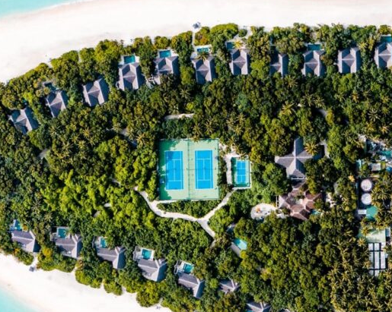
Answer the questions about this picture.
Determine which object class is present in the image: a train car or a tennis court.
tennis court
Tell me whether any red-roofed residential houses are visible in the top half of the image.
No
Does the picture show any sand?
Yes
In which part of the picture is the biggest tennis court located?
center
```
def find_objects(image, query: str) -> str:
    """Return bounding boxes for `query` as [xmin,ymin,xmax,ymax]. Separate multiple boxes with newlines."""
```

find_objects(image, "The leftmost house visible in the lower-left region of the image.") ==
[10,217,38,251]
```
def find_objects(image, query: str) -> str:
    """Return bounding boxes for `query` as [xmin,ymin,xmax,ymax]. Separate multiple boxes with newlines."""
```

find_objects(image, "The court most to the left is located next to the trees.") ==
[159,139,220,199]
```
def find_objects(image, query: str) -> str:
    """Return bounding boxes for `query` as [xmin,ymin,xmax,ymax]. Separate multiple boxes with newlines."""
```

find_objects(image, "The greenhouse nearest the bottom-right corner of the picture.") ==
[367,243,386,276]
